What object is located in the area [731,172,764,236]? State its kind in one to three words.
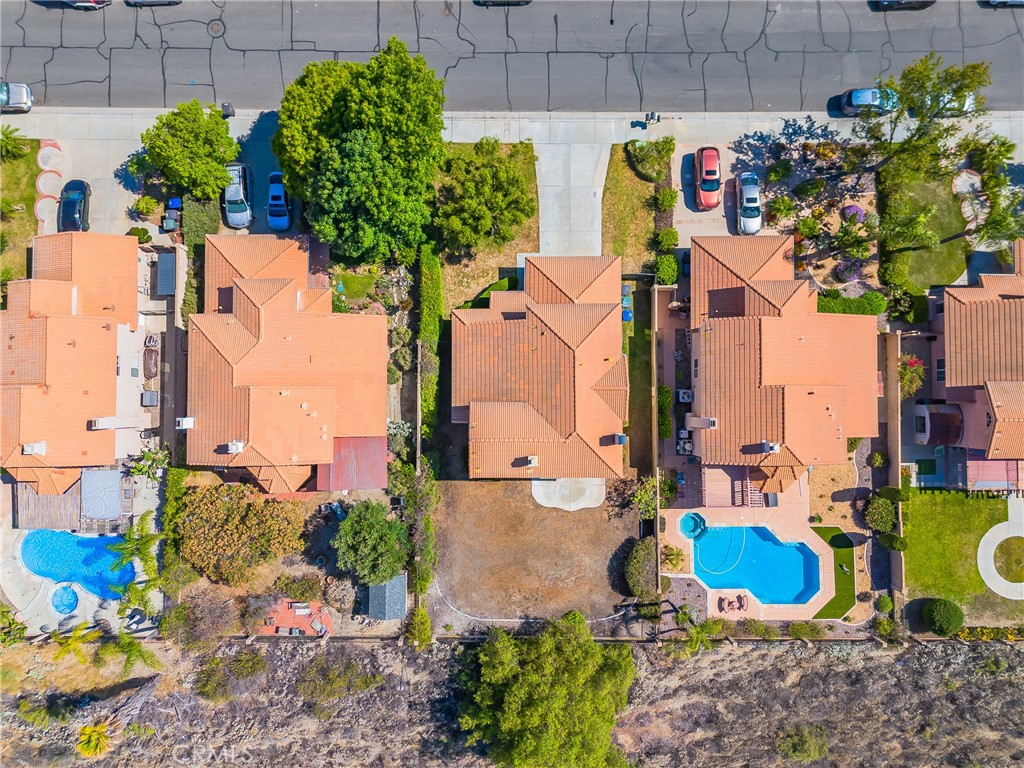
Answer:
car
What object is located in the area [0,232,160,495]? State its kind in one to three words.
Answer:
house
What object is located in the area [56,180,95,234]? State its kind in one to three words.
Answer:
car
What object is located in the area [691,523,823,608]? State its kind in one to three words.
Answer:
swimming pool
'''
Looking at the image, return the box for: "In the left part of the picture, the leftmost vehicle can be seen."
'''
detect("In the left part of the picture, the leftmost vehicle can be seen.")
[0,81,39,116]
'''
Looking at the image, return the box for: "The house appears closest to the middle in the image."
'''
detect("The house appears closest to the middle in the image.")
[451,255,629,480]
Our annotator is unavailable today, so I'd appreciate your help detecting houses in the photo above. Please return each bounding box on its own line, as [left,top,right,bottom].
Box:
[681,234,880,494]
[0,232,160,495]
[173,233,388,494]
[451,255,629,480]
[930,239,1024,460]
